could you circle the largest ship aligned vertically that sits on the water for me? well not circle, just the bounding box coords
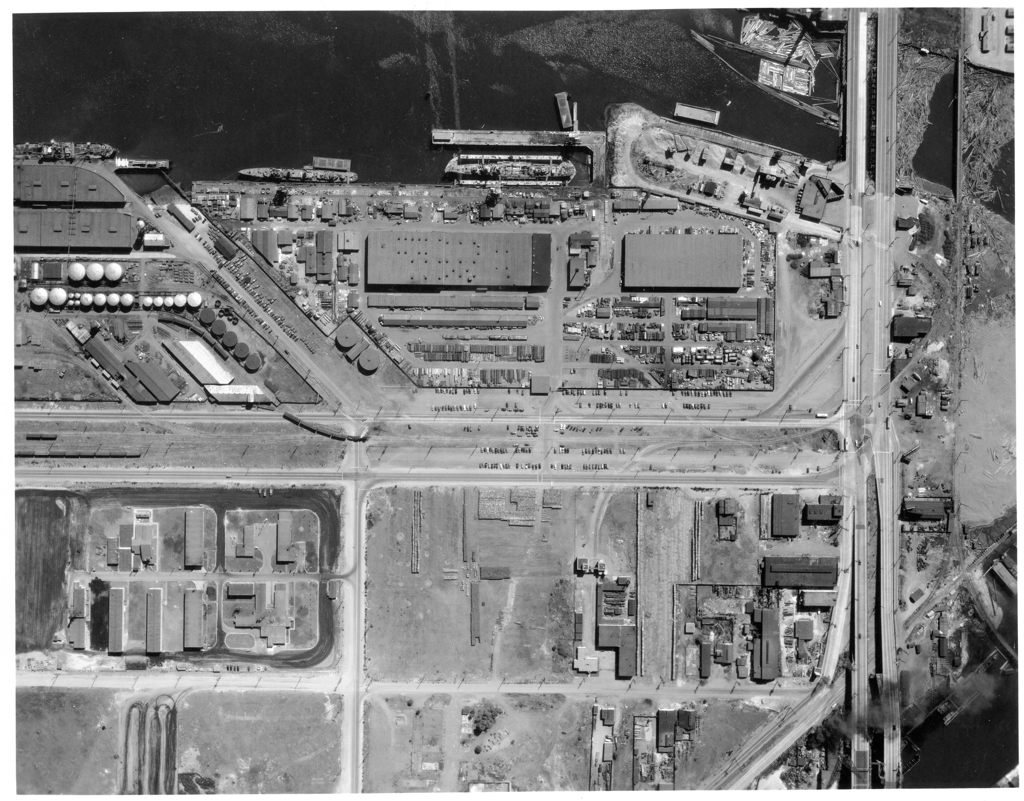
[555,91,572,129]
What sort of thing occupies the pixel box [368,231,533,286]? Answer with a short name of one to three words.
building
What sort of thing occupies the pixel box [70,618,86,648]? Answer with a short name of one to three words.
shed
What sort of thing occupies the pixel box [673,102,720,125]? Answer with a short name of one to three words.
ship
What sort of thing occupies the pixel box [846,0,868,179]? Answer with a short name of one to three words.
bridge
